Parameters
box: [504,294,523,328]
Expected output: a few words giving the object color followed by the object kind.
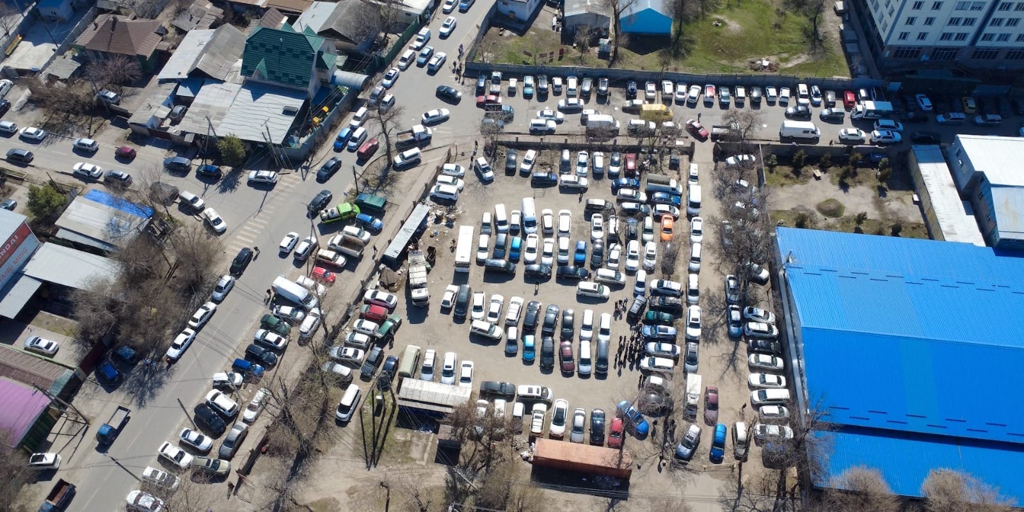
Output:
white car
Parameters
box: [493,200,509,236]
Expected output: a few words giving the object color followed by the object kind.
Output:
white vehicle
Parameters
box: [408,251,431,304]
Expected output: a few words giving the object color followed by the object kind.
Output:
white truck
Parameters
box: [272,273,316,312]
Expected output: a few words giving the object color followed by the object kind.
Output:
white van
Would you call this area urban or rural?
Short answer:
urban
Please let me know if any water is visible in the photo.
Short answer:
No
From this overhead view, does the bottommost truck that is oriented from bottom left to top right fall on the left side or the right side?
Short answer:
left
